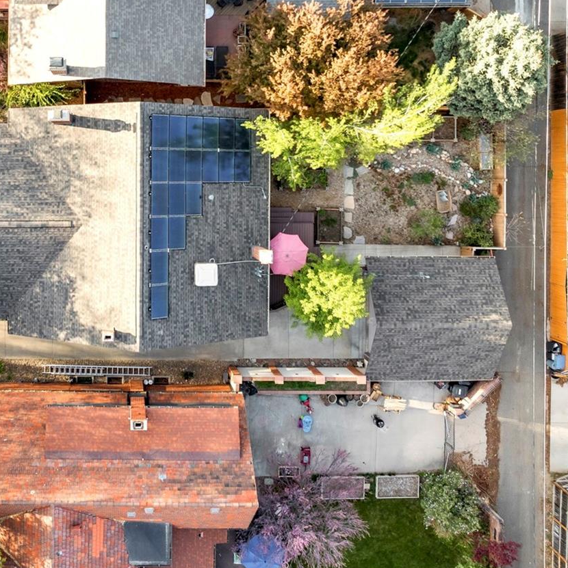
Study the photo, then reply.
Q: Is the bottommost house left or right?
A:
left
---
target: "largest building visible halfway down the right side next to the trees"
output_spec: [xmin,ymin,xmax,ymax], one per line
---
[359,255,512,382]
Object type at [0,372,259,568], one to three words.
house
